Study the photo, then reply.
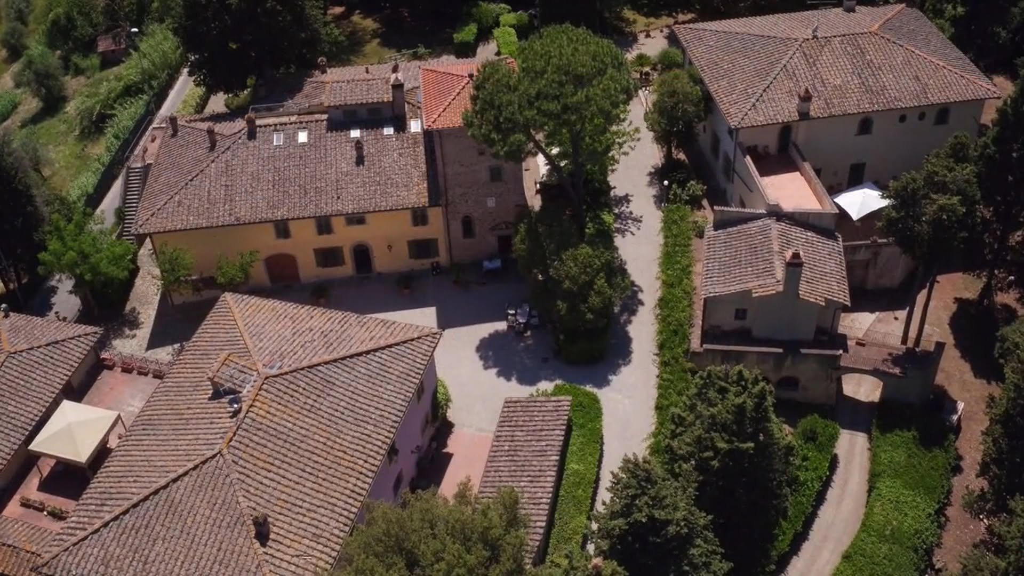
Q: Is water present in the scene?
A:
No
